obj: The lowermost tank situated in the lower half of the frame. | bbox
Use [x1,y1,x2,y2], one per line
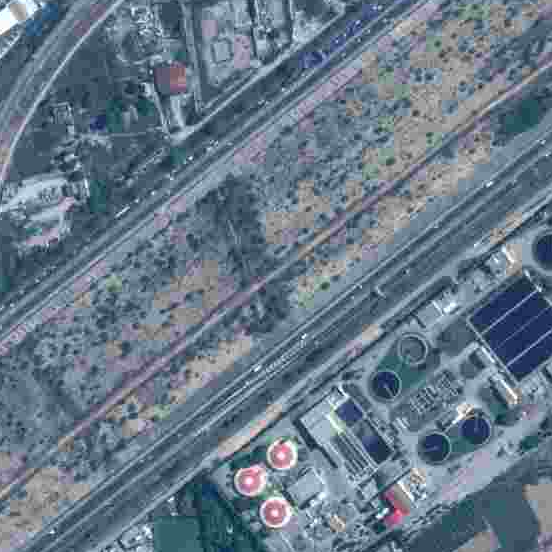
[258,498,291,529]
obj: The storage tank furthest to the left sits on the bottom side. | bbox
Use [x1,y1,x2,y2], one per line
[233,464,264,497]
